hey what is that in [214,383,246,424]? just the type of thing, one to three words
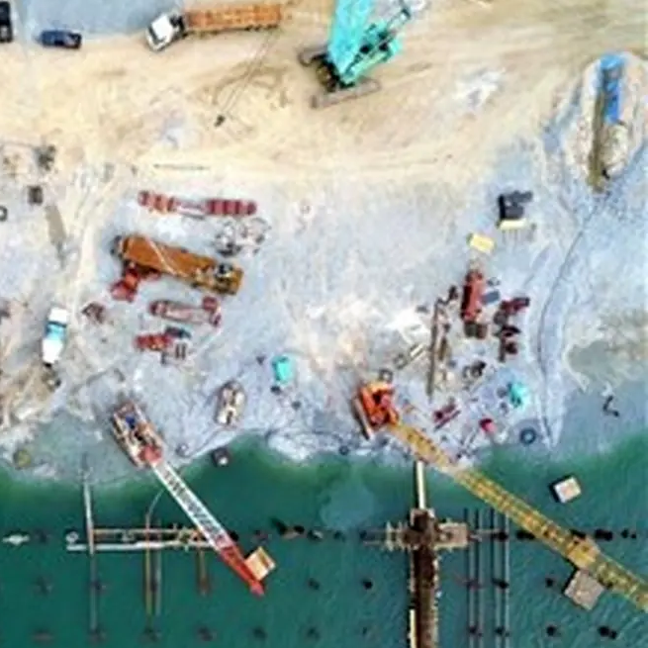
truck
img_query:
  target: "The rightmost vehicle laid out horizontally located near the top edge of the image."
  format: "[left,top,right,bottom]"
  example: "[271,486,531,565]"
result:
[151,0,286,43]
